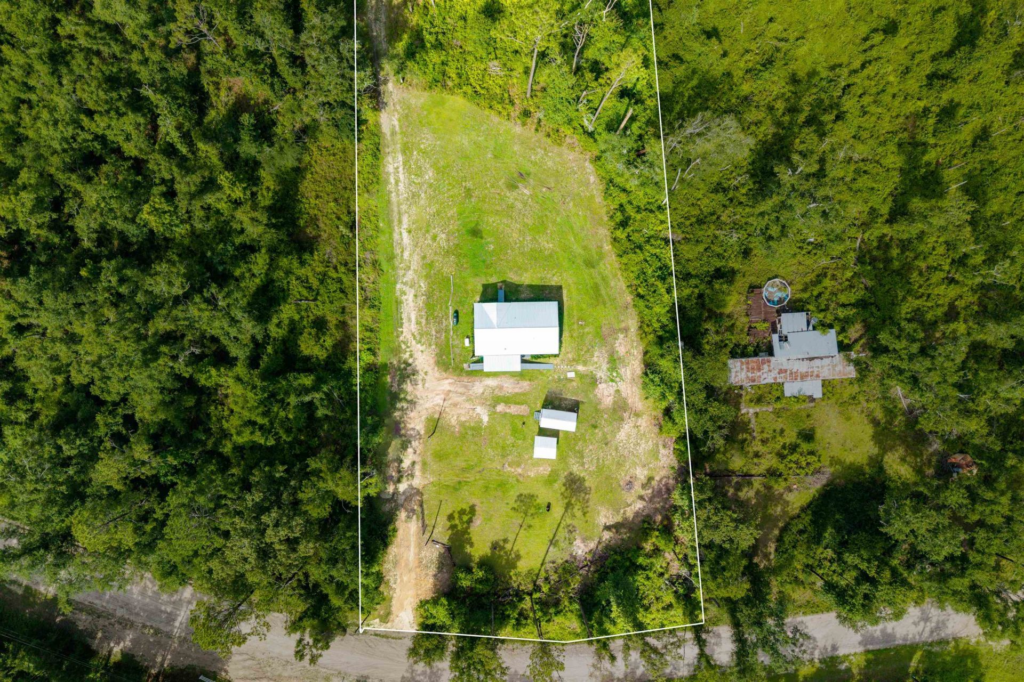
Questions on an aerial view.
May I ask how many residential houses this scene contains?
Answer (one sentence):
In total, there are 2 residential houses in the scene.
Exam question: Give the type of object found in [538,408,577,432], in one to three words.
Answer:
shed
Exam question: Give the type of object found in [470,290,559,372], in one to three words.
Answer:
house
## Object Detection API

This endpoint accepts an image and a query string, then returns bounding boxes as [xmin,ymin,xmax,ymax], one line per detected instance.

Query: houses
[724,312,865,399]
[470,290,559,372]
